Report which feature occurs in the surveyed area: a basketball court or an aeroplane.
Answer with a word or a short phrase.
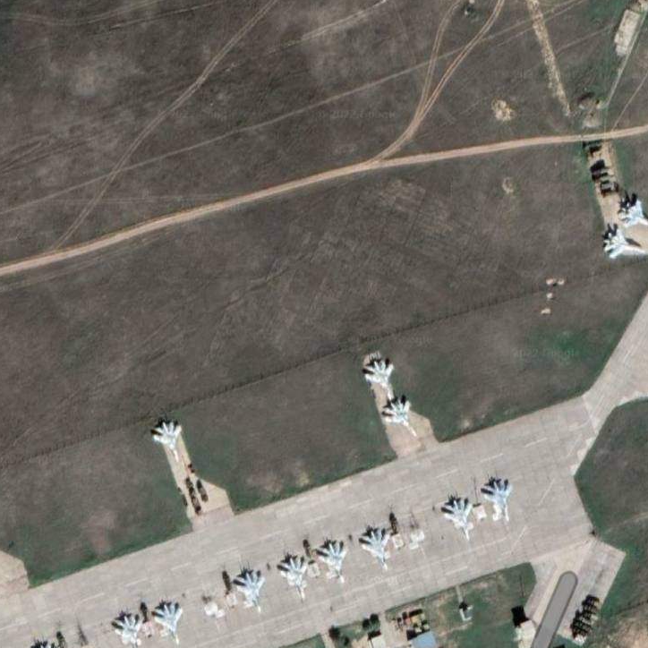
aeroplane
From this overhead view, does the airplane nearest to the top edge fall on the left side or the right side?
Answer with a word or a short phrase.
right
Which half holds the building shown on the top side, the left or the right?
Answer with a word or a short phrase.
right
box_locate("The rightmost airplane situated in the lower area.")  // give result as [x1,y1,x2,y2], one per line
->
[485,477,513,520]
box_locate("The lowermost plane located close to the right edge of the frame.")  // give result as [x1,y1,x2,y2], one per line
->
[608,229,648,257]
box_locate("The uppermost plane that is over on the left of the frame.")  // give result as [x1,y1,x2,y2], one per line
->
[153,417,181,461]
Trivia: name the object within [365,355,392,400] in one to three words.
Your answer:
airplane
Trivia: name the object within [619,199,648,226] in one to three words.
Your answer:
airplane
